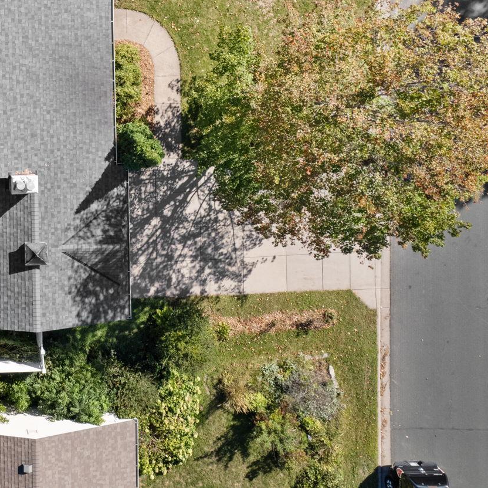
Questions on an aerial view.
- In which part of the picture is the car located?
bottom right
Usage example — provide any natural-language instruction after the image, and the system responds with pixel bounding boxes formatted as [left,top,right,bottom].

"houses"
[0,0,134,332]
[0,407,141,488]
